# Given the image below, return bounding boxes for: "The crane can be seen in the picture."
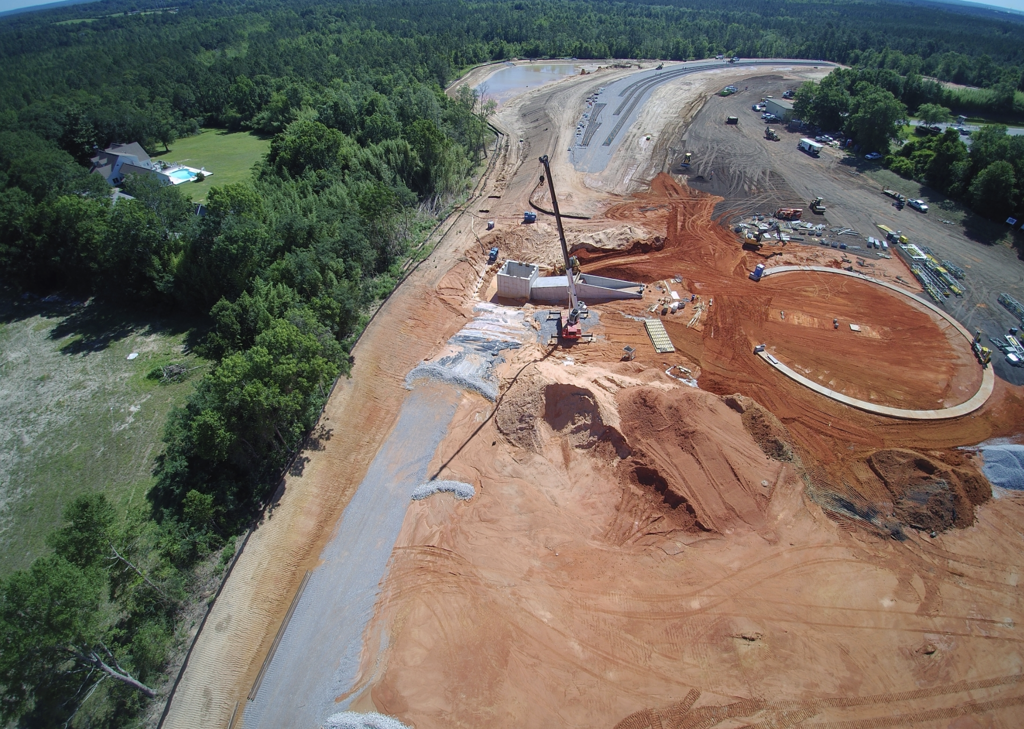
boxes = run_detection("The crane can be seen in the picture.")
[531,154,597,341]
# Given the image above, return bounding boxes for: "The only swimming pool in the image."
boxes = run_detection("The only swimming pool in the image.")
[165,163,213,184]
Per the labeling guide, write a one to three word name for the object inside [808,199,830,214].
work vehicle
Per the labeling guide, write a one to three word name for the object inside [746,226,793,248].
work vehicle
